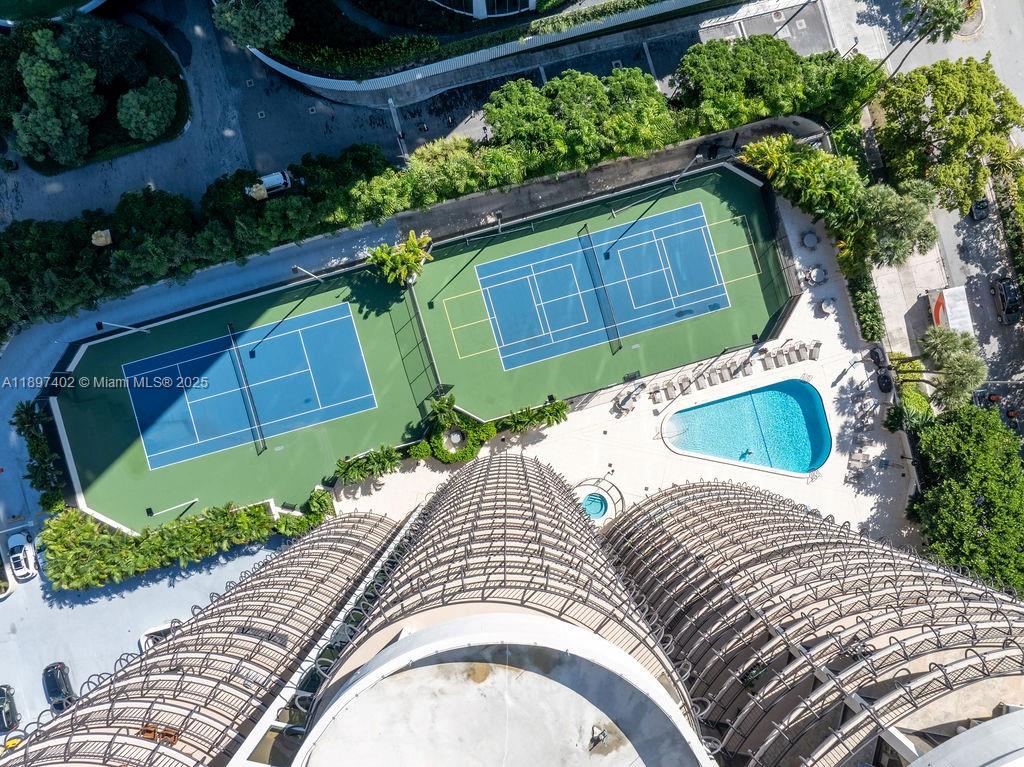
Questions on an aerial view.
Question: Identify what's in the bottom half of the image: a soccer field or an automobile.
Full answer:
There is an automobile in the bottom half of the image.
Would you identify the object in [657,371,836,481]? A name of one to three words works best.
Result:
swimming pool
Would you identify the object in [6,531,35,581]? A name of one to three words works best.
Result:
car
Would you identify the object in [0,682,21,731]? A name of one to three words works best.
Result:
car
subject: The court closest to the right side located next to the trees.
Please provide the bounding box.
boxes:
[412,160,801,421]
